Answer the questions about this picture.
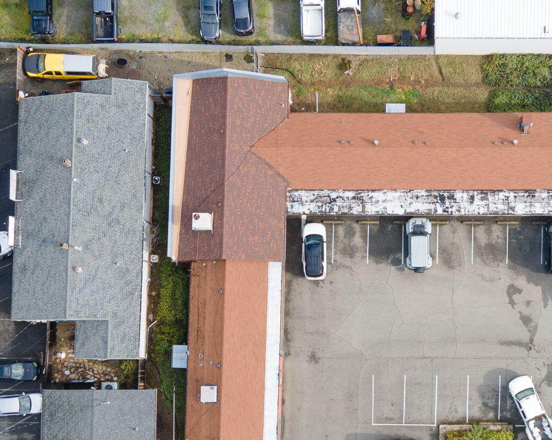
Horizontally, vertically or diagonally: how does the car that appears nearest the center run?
vertically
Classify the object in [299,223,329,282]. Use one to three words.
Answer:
car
